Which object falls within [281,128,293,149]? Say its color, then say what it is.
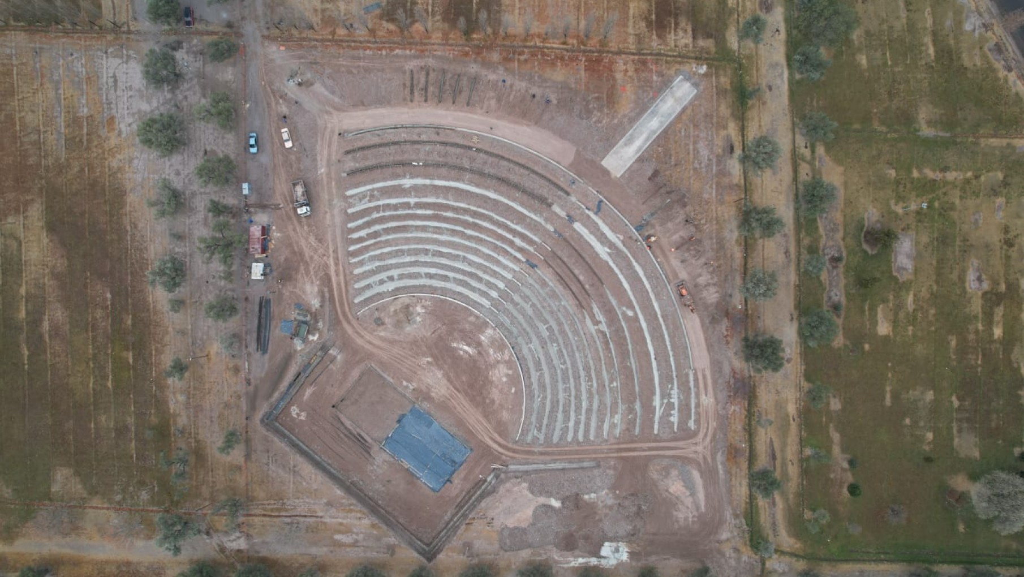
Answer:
white vehicle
